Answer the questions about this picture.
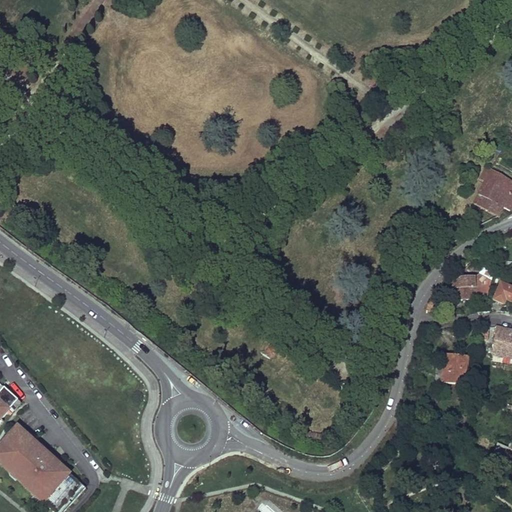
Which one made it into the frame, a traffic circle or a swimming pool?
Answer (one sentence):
The one in the frame is a traffic circle.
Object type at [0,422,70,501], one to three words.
building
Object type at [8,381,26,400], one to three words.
vehicle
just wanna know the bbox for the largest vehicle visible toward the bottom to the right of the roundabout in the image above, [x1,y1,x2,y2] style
[327,460,348,472]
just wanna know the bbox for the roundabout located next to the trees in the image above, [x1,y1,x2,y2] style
[157,373,249,488]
